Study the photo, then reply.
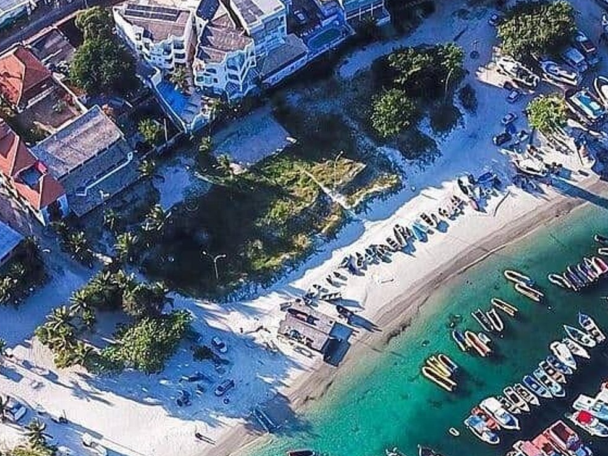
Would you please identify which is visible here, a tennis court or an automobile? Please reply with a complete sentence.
Looking from above, you can make out an automobile.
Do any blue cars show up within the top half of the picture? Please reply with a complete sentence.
Yes, you'll find a blue car within the top half of the picture.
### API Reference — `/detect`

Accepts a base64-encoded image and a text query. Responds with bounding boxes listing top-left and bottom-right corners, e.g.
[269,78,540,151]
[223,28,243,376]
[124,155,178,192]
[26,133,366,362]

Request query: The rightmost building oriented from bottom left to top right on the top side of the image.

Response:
[259,32,315,88]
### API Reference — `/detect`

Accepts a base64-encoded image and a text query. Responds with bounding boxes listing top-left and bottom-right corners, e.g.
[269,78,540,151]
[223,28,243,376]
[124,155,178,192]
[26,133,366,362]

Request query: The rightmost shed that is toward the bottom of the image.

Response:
[279,305,335,356]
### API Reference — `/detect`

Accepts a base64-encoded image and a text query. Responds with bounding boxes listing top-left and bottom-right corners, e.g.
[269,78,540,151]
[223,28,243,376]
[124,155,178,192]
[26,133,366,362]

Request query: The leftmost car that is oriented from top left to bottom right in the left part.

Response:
[209,335,229,355]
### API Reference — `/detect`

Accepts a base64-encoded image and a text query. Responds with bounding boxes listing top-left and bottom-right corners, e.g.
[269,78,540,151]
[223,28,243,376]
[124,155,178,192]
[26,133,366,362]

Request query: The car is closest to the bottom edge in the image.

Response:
[7,403,30,424]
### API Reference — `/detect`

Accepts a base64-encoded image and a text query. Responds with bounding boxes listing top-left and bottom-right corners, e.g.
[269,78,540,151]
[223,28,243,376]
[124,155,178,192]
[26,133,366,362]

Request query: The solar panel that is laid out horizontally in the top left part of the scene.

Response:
[124,1,180,21]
